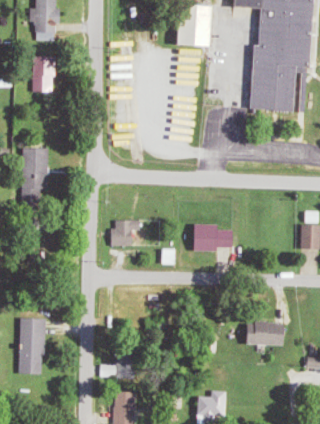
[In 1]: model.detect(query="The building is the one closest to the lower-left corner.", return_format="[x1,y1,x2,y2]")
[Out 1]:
[18,318,44,374]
